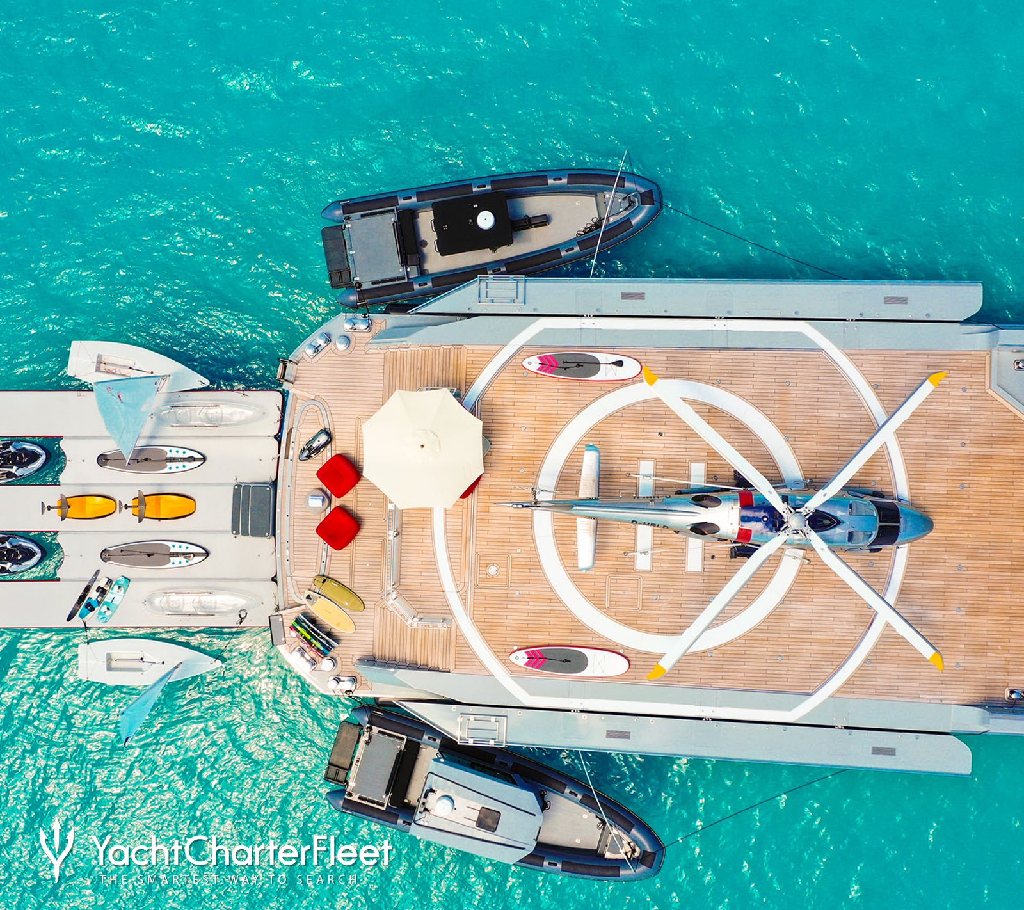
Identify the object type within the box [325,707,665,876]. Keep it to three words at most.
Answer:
boat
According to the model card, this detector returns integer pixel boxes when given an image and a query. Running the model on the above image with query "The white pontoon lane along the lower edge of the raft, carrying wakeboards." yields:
[0,579,281,628]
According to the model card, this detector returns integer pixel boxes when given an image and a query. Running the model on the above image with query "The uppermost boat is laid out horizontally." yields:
[318,169,663,305]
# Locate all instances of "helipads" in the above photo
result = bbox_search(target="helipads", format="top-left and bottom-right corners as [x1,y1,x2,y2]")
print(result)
[403,318,1024,721]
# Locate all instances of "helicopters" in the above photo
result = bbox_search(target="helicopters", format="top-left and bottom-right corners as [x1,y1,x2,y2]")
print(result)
[508,359,952,677]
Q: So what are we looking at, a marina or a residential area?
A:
marina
